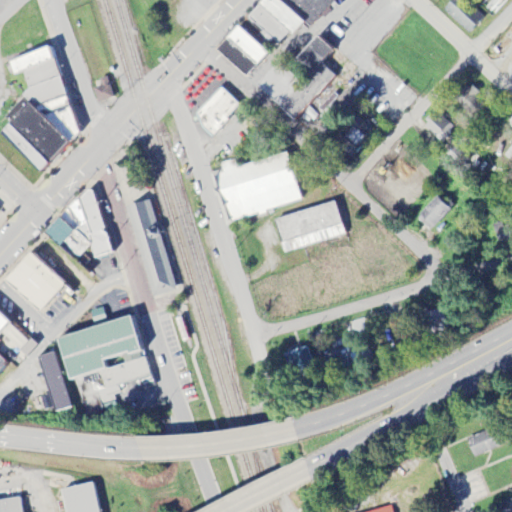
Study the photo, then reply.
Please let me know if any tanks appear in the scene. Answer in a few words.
No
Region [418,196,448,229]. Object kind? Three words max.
house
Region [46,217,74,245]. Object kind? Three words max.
building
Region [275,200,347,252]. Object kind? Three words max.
barn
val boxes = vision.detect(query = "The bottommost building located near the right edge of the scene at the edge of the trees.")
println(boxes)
[471,430,499,456]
